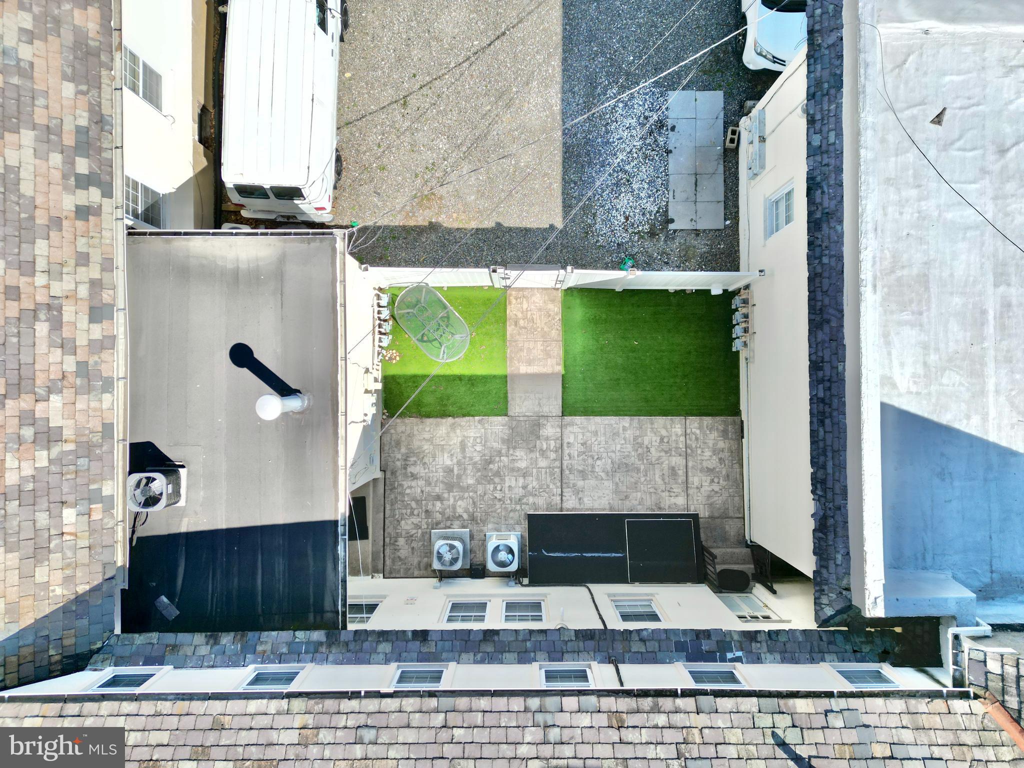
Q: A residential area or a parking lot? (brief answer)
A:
residential area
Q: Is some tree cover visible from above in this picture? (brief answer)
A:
No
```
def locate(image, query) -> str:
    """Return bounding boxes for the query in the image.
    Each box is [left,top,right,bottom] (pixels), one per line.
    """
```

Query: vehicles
[730,0,801,81]
[221,0,351,228]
